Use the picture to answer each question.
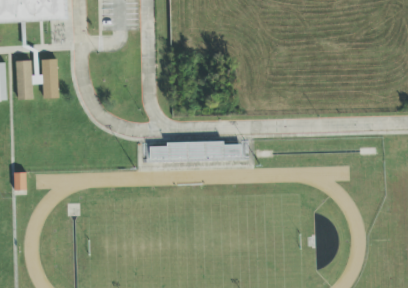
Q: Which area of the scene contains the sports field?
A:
bottom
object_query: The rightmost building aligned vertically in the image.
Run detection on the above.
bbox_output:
[41,59,59,100]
